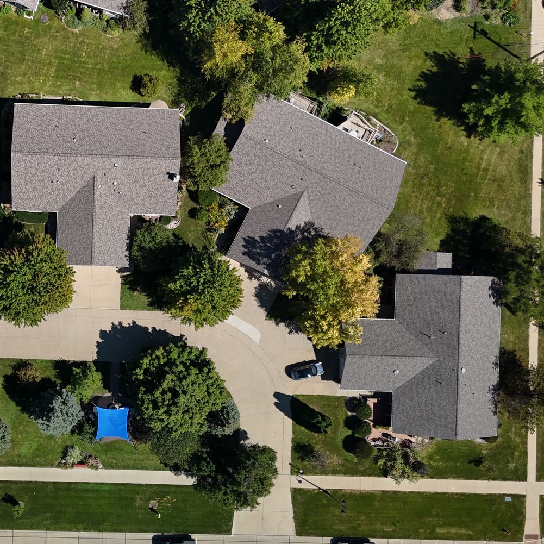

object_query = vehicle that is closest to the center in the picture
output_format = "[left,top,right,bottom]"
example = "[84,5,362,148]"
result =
[290,362,324,380]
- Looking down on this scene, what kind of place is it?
residential area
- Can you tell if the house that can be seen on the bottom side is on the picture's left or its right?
right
